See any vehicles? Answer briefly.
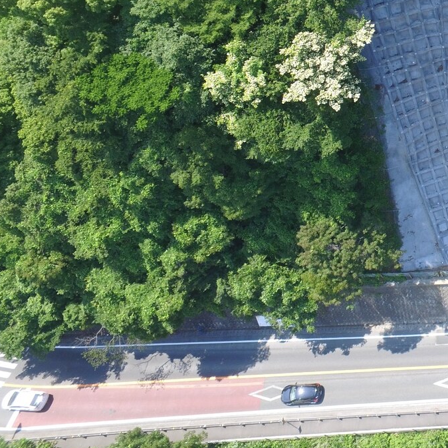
Yes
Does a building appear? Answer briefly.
No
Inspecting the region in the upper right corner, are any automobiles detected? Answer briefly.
No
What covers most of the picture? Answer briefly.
trees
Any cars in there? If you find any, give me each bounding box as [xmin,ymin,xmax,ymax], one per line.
[281,381,325,406]
[0,388,54,413]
